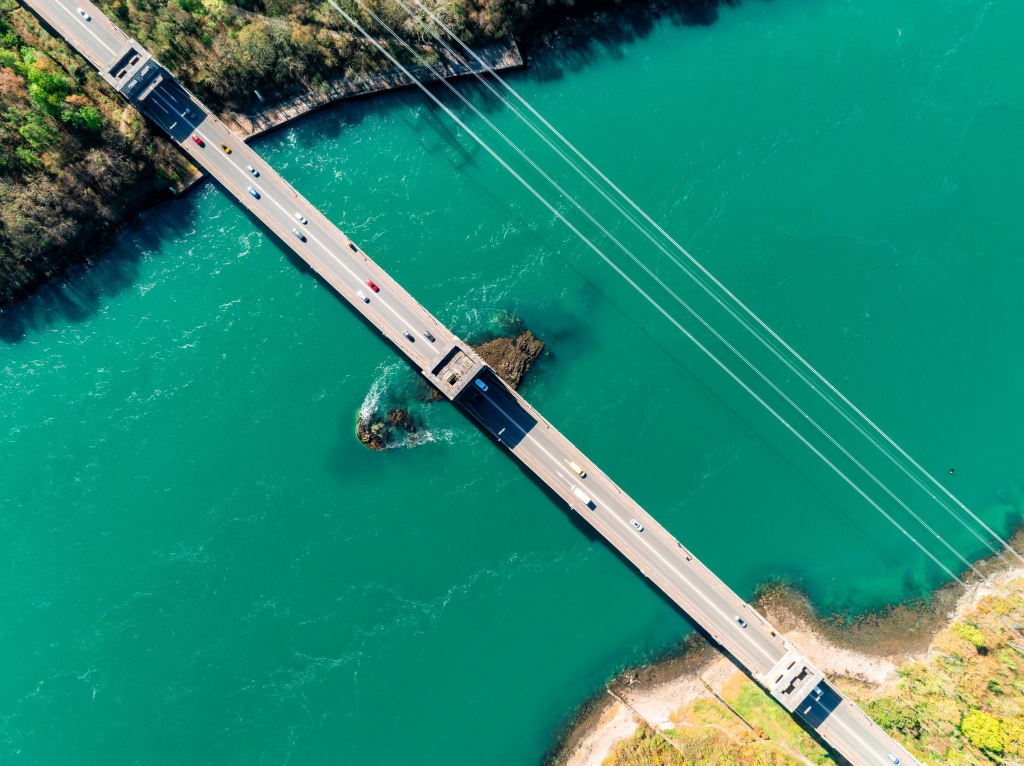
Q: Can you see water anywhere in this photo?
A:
Yes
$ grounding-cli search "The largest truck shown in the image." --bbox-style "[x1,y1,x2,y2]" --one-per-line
[571,486,592,507]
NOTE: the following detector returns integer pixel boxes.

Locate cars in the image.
[630,519,643,531]
[472,392,485,404]
[734,616,747,628]
[402,329,415,341]
[357,290,370,302]
[78,8,91,21]
[366,279,379,291]
[812,687,822,697]
[184,107,197,120]
[246,164,259,177]
[292,228,306,241]
[474,378,488,391]
[219,141,232,154]
[294,211,307,223]
[192,134,204,146]
[247,186,260,198]
[887,753,900,765]
[422,329,435,341]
